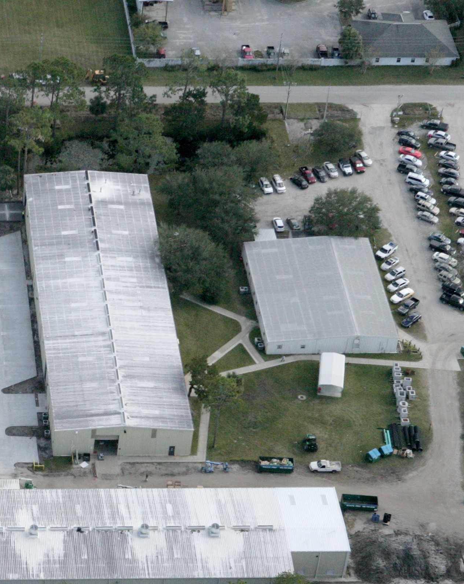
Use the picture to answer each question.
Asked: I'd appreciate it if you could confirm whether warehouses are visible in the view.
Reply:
Yes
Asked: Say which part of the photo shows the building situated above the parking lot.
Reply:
top right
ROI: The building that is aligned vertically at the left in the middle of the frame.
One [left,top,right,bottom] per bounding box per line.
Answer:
[22,170,196,457]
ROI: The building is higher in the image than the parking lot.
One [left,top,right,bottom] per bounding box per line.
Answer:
[354,4,457,66]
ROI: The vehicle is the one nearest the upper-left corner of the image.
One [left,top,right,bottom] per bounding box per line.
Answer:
[82,67,115,86]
